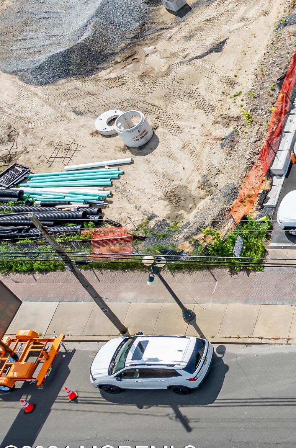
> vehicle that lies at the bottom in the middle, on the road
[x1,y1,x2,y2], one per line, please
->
[85,336,211,399]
